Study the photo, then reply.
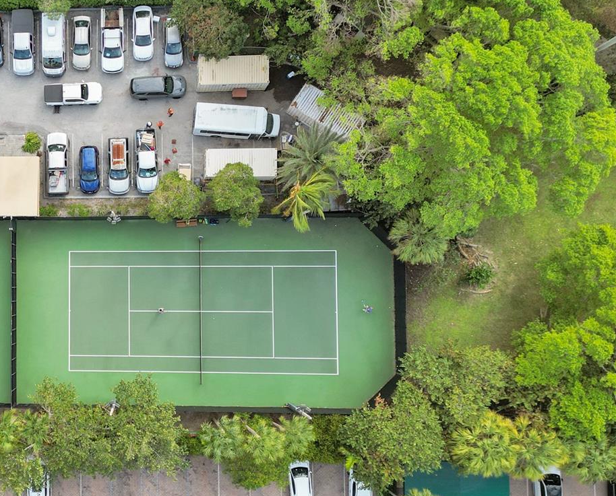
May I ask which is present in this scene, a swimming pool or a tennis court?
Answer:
tennis court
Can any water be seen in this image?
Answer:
No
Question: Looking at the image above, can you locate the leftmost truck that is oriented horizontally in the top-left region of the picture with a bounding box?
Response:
[44,78,102,106]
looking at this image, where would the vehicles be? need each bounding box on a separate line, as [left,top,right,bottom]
[40,8,67,80]
[44,133,71,196]
[29,457,53,496]
[135,127,161,194]
[131,73,186,100]
[69,17,94,73]
[161,19,186,71]
[44,78,102,106]
[99,6,126,75]
[289,456,315,496]
[131,11,156,62]
[9,7,37,78]
[191,102,281,138]
[346,462,372,496]
[532,467,565,496]
[106,138,133,196]
[77,145,102,195]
